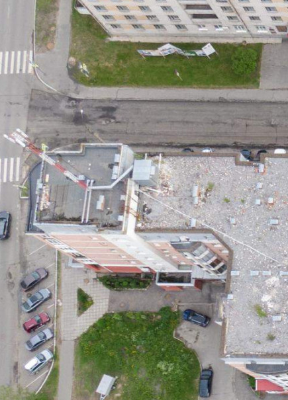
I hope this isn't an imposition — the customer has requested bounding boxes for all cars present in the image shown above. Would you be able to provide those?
[255,151,268,163]
[19,267,51,292]
[0,211,12,241]
[20,287,54,313]
[23,327,57,352]
[180,308,211,329]
[198,370,215,398]
[22,347,57,376]
[239,150,254,163]
[201,147,213,154]
[21,310,53,334]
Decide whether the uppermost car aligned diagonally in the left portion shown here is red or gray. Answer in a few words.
gray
